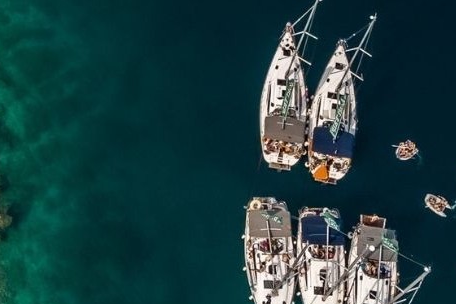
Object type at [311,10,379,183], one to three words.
boat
